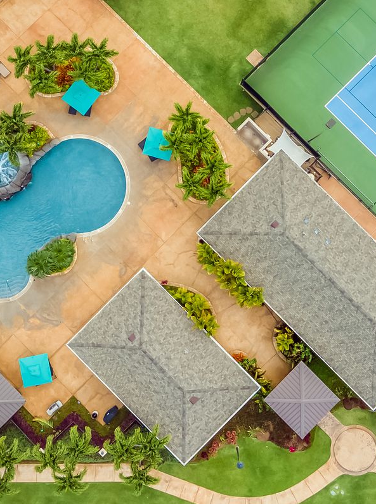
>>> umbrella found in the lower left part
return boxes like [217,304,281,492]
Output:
[18,352,54,389]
